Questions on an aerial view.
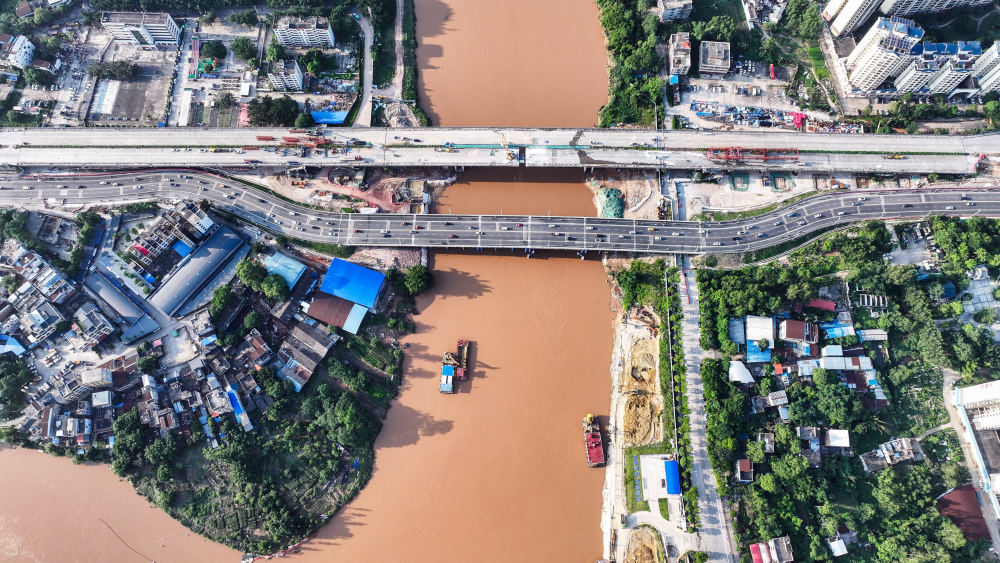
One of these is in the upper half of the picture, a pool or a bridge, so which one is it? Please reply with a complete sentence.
You can see a bridge in the upper half of the picture.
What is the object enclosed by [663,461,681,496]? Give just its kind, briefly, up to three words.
shed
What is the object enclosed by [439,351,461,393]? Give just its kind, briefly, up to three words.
ship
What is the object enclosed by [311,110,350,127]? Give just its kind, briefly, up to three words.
house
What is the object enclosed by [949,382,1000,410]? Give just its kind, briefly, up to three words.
building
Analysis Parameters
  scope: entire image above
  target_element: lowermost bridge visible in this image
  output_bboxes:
[337,213,707,263]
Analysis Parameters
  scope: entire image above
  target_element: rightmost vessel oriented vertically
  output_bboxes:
[578,416,606,467]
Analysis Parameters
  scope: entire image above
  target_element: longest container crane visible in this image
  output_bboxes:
[706,146,799,163]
